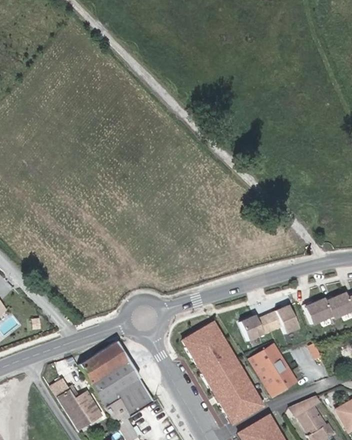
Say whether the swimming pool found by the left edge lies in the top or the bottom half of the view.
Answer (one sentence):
You can find the swimming pool found by the left edge in the bottom half.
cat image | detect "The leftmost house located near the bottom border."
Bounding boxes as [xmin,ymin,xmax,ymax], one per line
[48,378,103,432]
